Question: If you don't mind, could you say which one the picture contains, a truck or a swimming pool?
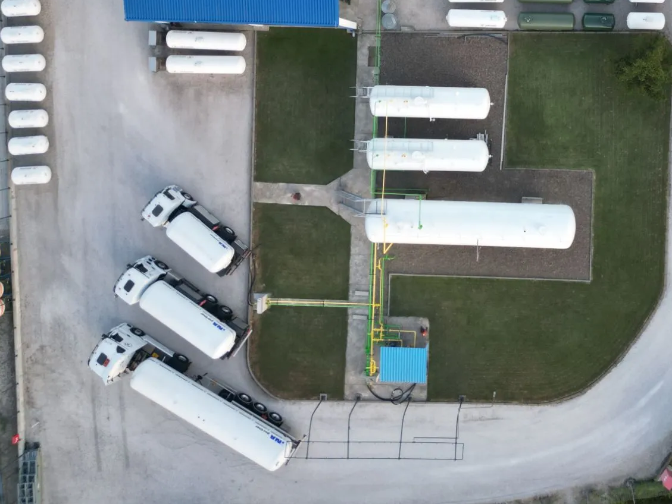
truck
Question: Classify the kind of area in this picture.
industrial area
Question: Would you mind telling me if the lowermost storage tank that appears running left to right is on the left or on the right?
right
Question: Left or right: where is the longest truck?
left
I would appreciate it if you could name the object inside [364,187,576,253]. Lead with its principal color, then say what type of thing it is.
white storage tank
